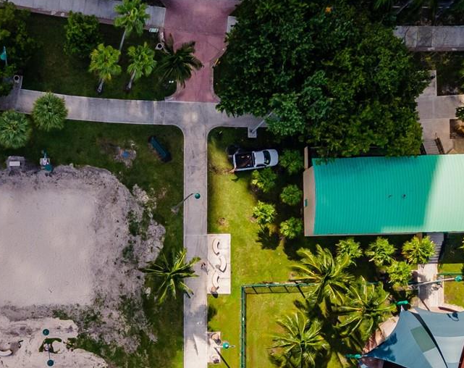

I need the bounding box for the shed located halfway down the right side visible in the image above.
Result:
[303,153,464,239]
